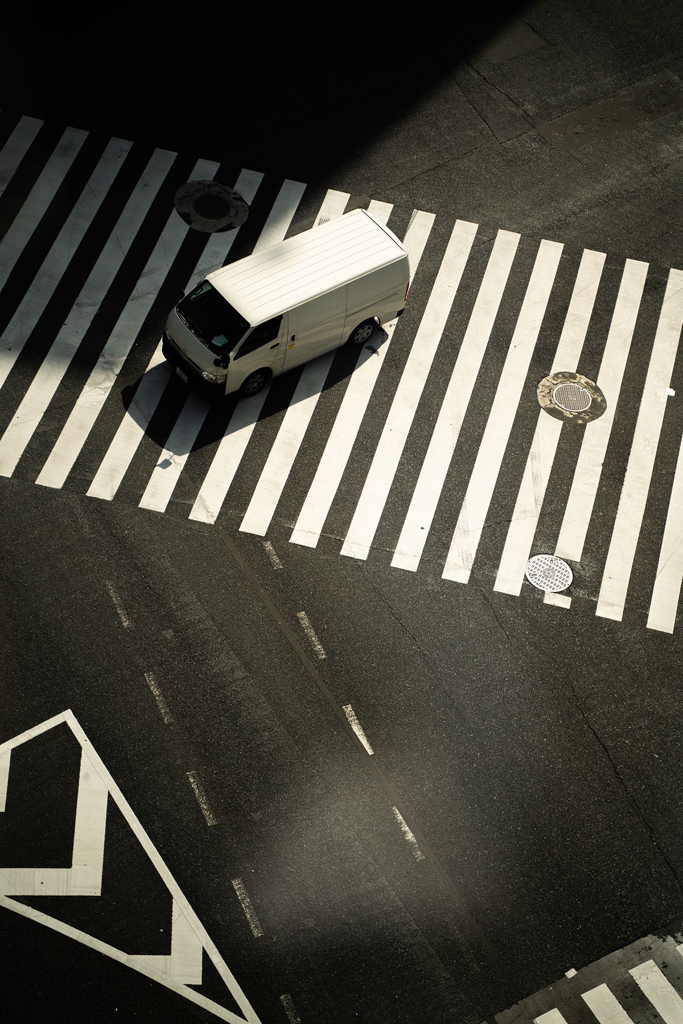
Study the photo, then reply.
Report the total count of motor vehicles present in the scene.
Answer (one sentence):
I count 1 motor vehicle.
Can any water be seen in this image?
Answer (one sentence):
No, there's no water in this view.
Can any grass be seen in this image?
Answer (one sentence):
No, the picture contains no grass.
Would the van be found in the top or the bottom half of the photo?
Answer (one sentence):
You can find the van in the top half.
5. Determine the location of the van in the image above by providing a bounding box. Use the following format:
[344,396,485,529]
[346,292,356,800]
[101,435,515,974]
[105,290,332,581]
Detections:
[164,210,408,398]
